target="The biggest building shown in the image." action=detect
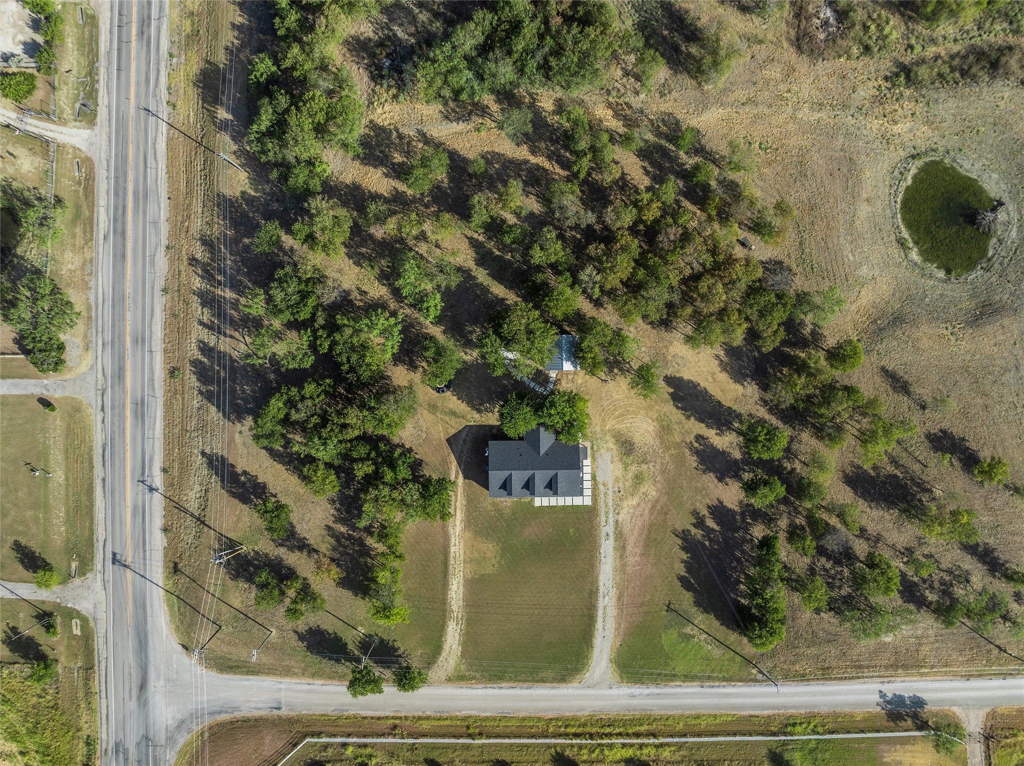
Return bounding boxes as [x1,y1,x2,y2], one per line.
[489,422,587,498]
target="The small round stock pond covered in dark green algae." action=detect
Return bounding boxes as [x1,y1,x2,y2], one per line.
[897,158,997,277]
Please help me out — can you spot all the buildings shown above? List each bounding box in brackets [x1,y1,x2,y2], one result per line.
[545,335,581,370]
[489,422,587,498]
